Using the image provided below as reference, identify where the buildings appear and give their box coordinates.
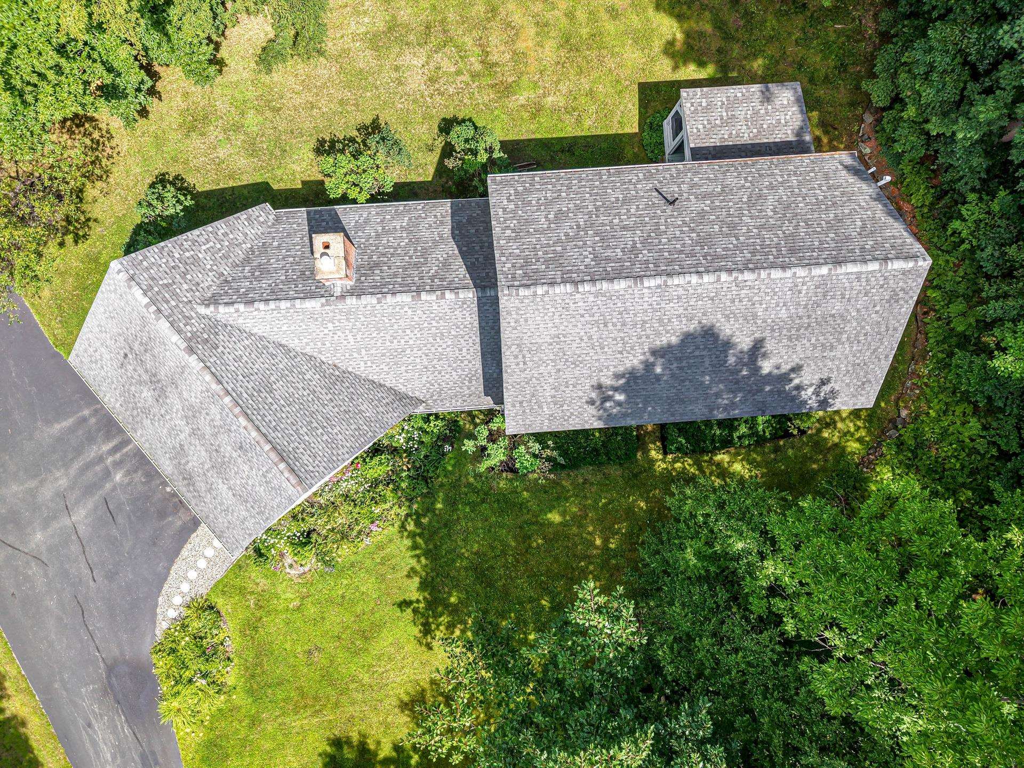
[68,83,933,559]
